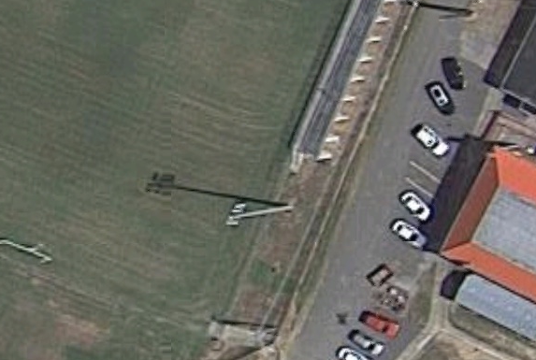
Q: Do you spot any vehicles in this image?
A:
Yes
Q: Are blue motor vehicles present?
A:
No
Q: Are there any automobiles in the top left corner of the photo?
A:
No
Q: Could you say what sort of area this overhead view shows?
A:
sports ground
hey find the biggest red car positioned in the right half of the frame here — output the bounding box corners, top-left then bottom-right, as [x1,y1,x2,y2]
[363,311,398,338]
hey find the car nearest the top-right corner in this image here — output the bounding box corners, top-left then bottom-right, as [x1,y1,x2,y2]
[443,54,465,91]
